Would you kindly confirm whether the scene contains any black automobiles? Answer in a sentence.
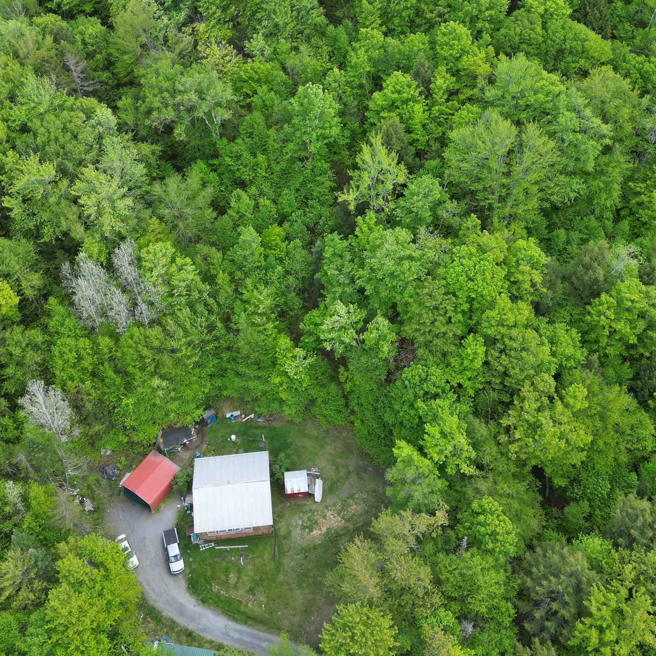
No, there isn't any black automobile down there.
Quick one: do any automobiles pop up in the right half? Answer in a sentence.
No, there's no automobile to be seen in the right half.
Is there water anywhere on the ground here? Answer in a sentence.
No, the picture contains no water.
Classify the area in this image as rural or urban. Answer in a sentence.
The land in this view is best described as rural.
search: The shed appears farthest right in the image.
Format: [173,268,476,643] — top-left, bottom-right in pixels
[284,469,309,498]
